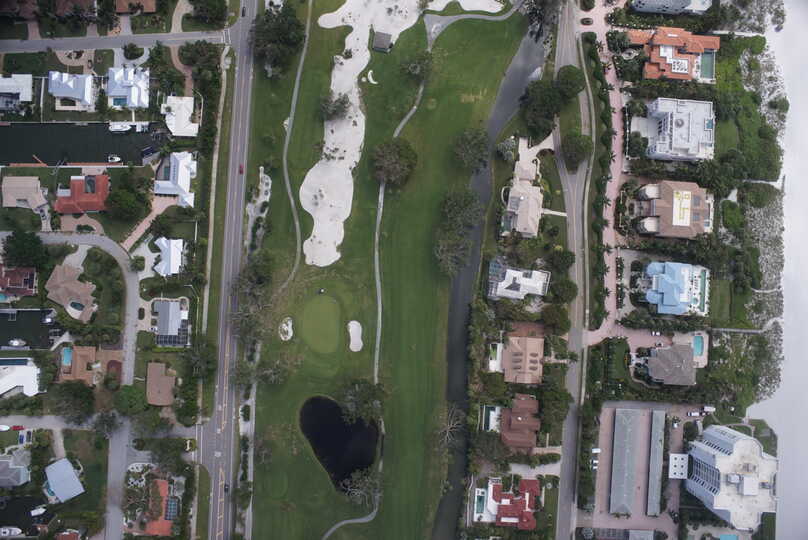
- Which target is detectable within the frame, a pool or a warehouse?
pool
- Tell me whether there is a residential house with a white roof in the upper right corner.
Yes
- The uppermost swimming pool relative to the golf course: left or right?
to the right of it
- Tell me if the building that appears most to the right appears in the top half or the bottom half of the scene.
bottom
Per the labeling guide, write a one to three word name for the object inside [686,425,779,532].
building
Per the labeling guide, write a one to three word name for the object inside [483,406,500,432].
swimming pool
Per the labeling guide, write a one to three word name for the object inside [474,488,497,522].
swimming pool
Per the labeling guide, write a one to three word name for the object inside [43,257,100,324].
house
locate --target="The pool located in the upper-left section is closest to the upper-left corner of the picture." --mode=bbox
[54,96,94,111]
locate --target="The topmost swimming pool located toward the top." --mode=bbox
[692,50,716,84]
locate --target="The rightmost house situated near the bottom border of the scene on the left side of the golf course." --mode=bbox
[145,479,174,536]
